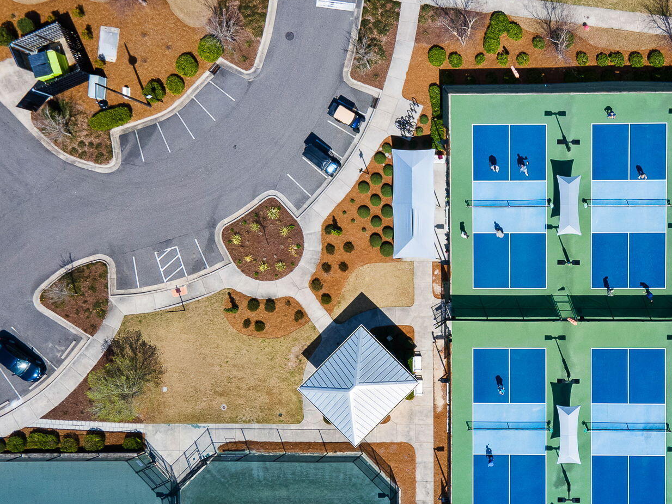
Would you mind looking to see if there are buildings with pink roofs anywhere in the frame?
No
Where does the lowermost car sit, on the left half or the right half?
left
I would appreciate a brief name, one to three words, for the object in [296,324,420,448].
building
